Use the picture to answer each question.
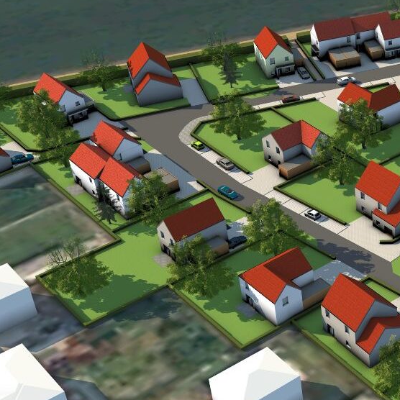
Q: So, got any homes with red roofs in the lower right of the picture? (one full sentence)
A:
Yes, there is a home with a red roof in the lower right of the picture.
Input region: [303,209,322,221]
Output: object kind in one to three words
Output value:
vehicle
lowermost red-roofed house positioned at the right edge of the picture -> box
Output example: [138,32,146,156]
[321,274,400,365]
